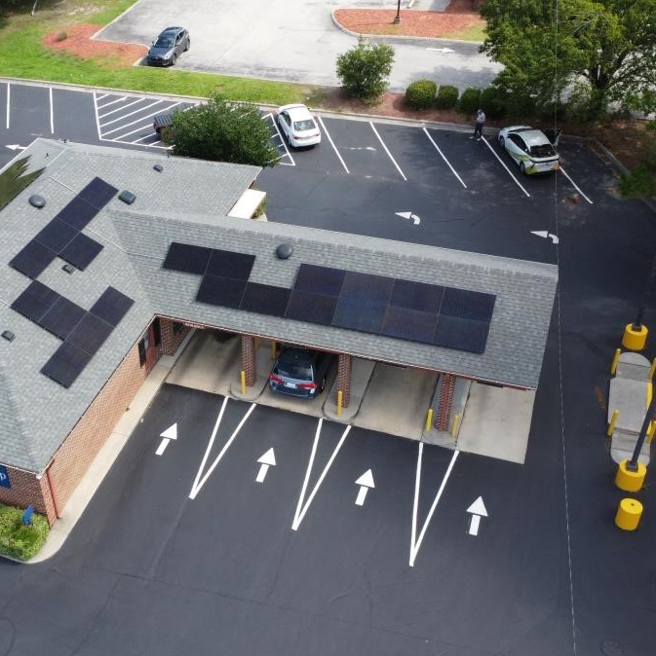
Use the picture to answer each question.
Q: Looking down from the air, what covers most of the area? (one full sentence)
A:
What you mostly see from above here is paved ground.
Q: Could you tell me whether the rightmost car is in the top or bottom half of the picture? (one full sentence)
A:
It is in the top half that the rightmost car appears.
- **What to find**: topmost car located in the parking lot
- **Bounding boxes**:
[148,25,187,61]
